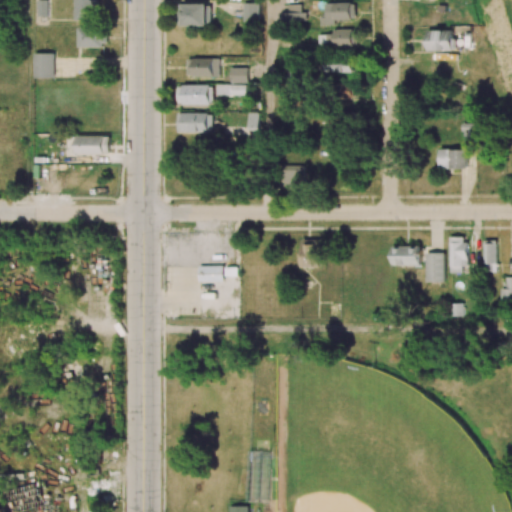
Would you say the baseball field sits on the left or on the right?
right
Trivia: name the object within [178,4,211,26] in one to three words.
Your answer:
house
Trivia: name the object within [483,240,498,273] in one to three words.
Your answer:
house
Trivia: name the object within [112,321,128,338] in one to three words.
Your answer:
vehicle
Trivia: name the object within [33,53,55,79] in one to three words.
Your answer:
building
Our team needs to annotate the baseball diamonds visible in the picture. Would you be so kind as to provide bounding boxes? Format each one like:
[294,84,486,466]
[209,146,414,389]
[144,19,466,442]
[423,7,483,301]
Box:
[278,356,508,512]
